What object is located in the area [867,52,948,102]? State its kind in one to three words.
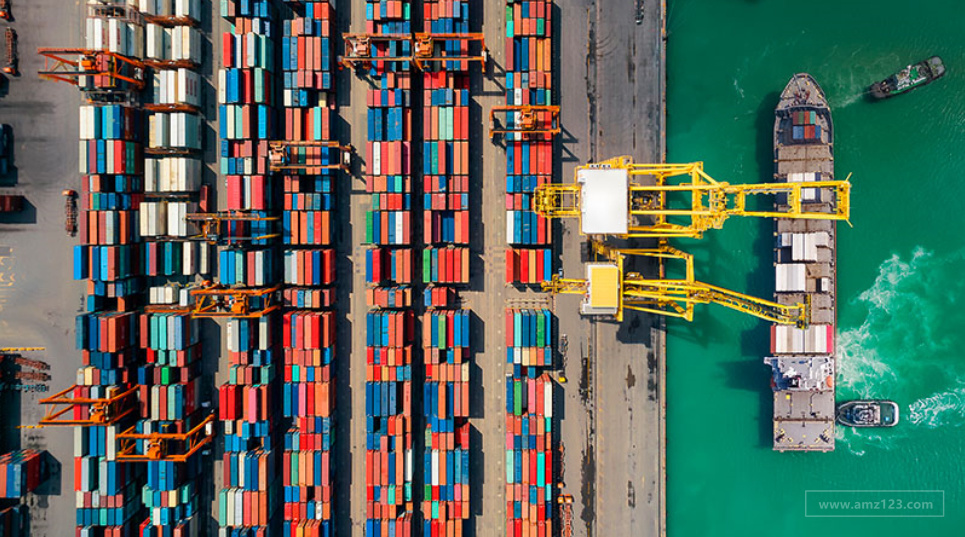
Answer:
boat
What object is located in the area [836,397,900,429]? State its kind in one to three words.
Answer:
boat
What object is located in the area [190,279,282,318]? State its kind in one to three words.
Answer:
container crane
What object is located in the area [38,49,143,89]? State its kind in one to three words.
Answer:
container crane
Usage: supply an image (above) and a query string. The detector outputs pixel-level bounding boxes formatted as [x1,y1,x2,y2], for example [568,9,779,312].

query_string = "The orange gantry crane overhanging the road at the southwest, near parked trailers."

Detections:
[38,380,142,429]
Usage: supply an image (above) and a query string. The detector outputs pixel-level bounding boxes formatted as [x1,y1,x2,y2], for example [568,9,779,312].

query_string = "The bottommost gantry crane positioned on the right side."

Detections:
[535,237,822,345]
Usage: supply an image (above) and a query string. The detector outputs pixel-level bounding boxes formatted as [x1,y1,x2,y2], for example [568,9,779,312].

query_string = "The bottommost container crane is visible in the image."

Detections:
[116,411,212,464]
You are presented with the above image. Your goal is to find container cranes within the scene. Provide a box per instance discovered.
[190,279,282,318]
[186,209,279,244]
[38,49,143,89]
[342,33,420,75]
[38,380,142,429]
[263,138,353,175]
[535,237,822,345]
[489,105,560,142]
[413,33,487,75]
[535,153,860,240]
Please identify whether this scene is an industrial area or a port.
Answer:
port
